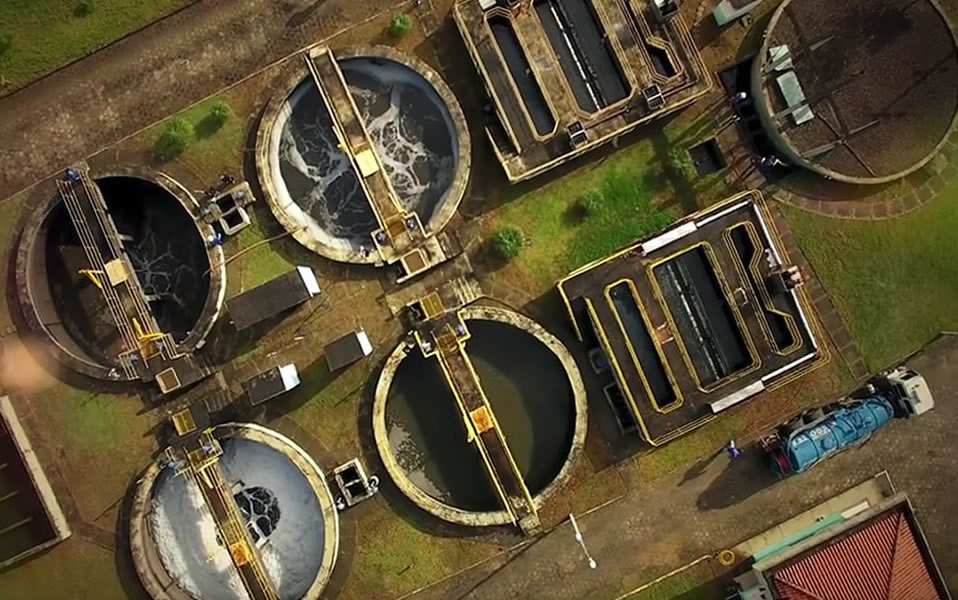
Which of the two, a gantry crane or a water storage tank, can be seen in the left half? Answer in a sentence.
It is a water storage tank that can be seen in the left half.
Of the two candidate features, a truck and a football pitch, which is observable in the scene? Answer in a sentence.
The image shows a truck.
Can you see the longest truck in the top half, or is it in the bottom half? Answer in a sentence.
Seen from above, the longest truck lies in the bottom half of the view.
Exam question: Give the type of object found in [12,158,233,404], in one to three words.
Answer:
water tank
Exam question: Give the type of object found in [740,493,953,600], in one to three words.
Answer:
house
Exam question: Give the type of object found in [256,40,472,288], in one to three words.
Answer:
water tank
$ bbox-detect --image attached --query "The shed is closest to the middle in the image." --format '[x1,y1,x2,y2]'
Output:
[324,330,370,372]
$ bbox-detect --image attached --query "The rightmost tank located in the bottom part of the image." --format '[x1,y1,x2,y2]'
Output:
[372,276,588,532]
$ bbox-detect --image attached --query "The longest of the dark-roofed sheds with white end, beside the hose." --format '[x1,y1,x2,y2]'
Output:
[226,269,320,329]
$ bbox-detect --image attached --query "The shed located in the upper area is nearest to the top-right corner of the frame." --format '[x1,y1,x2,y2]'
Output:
[704,0,777,38]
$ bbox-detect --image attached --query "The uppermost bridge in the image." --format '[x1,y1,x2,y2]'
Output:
[302,40,408,228]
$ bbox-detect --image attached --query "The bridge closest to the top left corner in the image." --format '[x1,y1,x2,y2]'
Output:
[50,158,164,346]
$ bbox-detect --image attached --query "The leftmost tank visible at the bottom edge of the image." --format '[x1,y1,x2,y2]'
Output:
[129,385,343,600]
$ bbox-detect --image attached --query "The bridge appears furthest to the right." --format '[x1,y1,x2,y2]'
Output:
[433,344,541,532]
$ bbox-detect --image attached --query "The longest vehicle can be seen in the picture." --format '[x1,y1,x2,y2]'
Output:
[736,363,938,479]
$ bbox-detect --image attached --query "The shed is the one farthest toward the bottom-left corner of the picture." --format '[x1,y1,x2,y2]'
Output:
[247,364,298,406]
